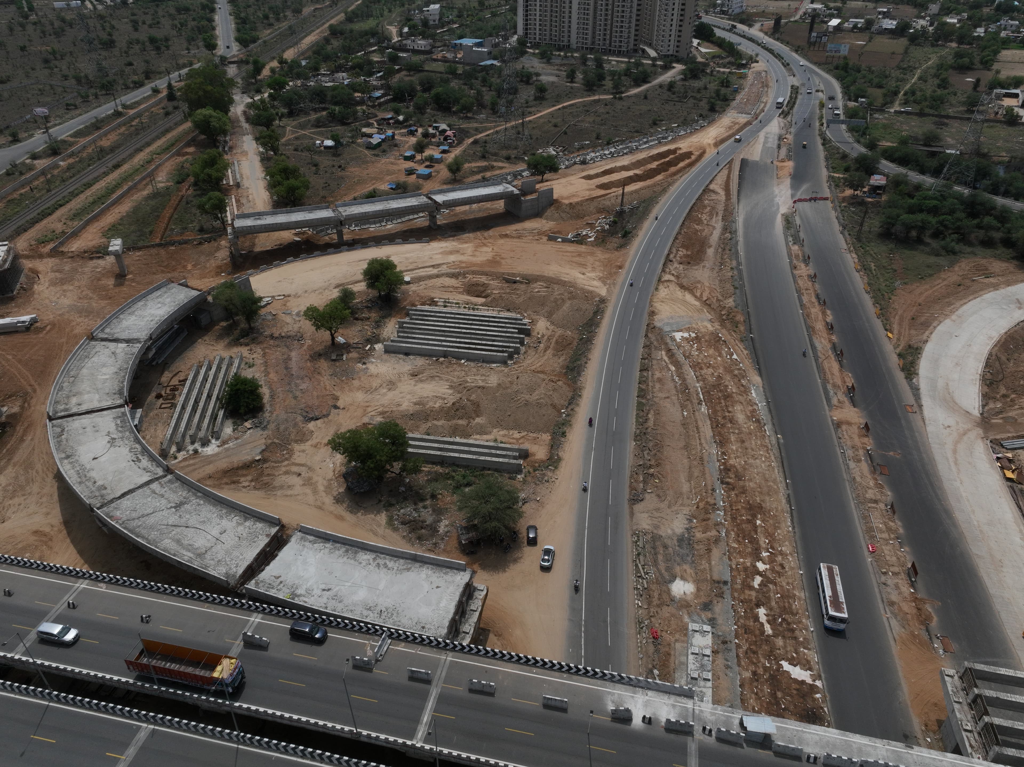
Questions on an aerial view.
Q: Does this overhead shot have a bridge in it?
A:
Yes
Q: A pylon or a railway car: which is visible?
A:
pylon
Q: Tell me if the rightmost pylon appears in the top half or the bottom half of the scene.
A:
top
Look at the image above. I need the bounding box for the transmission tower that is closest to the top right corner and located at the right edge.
[922,65,1003,194]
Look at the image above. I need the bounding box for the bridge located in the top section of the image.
[234,181,514,258]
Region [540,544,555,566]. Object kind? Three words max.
car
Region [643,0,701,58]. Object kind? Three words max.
building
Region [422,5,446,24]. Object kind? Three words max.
house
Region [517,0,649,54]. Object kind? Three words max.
building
